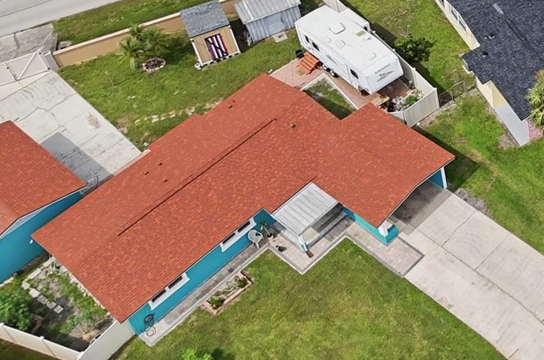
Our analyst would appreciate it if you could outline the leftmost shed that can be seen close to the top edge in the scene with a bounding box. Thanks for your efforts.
[182,0,237,59]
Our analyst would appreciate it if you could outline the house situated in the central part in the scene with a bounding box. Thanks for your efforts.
[30,73,456,336]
